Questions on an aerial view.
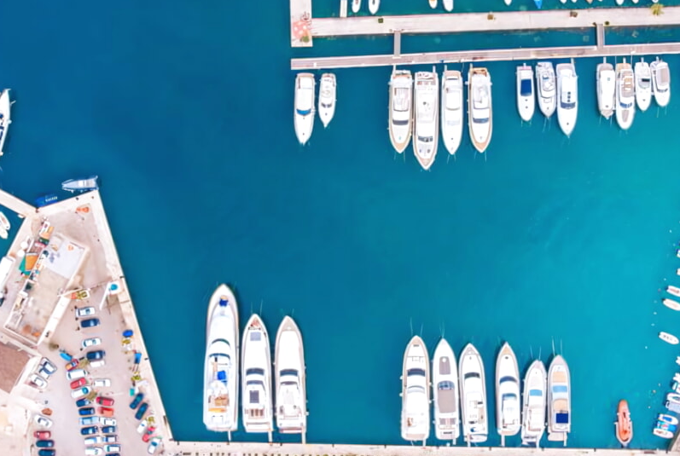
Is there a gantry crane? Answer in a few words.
No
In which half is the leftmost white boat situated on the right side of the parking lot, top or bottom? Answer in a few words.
bottom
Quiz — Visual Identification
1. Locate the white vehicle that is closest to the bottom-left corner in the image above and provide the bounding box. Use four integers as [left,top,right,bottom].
[34,415,52,427]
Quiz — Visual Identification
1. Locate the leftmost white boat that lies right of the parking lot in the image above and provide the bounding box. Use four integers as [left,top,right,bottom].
[203,272,241,442]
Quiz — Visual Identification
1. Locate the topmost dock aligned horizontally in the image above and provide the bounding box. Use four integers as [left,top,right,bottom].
[312,7,680,37]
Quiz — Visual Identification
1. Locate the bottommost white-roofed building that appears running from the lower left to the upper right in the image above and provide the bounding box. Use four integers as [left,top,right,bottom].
[12,351,46,398]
